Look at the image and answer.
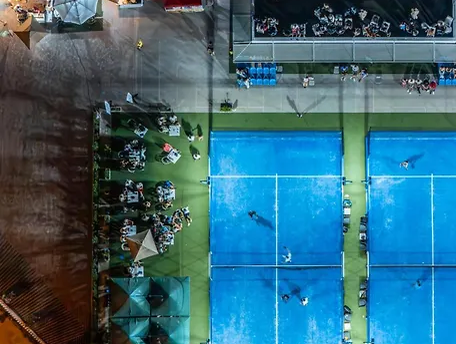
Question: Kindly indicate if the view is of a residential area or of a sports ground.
sports ground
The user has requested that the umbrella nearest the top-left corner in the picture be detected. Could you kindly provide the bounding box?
[8,5,36,35]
